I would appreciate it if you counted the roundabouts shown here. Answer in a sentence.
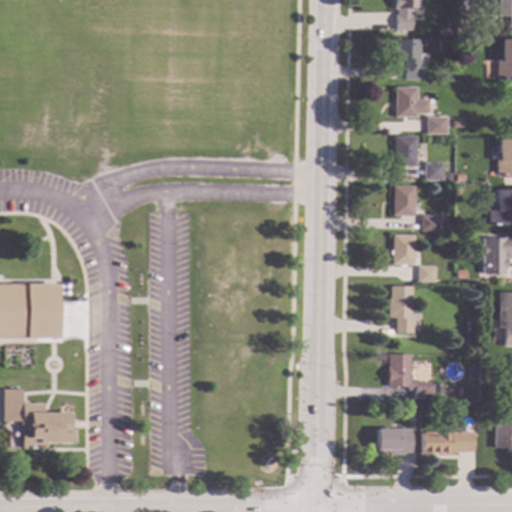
The count of roundabouts is 0.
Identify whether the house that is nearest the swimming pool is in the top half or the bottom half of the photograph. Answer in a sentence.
The house that is nearest the swimming pool is in the bottom half of the image.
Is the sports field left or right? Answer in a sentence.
You can find the sports field on the left side of the picture.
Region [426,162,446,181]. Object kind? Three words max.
building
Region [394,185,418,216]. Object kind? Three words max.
house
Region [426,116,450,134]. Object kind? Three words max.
building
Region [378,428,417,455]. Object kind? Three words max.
house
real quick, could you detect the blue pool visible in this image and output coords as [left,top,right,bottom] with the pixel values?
[446,364,464,380]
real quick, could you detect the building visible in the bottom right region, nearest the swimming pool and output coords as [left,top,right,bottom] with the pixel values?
[389,354,437,395]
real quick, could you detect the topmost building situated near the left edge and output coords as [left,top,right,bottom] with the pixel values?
[0,283,62,338]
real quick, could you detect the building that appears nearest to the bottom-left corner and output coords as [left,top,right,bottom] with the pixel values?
[2,388,78,450]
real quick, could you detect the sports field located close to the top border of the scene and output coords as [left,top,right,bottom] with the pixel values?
[0,0,293,182]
